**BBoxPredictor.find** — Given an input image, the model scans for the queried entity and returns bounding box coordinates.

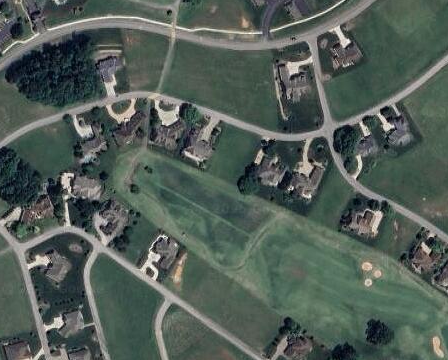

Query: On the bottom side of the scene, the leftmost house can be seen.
[5,339,32,360]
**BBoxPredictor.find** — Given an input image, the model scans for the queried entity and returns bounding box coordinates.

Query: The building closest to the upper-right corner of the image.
[332,41,364,66]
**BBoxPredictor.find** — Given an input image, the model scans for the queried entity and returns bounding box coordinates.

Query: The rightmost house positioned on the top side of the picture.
[384,116,416,146]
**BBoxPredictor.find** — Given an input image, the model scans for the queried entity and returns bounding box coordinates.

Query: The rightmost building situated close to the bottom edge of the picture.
[283,336,312,360]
